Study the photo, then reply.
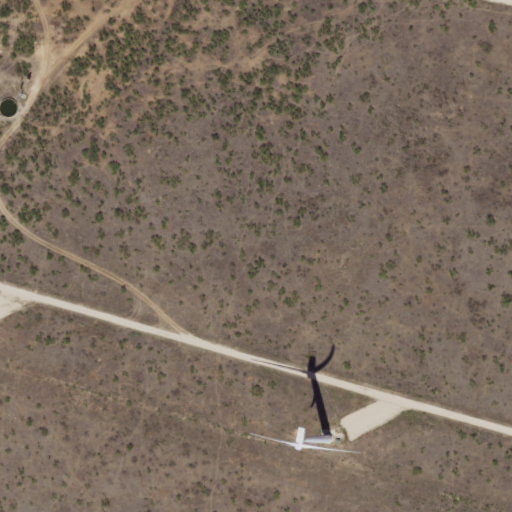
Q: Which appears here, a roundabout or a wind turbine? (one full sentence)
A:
The one in the frame is a wind turbine.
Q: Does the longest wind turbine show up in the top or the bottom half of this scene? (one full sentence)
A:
The longest wind turbine sits in the bottom half of the picture.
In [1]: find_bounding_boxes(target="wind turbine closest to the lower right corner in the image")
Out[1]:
[237,428,344,453]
